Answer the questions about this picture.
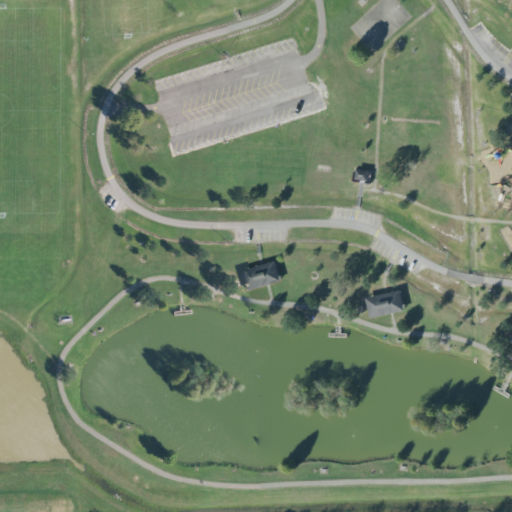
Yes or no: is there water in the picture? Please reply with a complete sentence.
Yes, there's water in this view.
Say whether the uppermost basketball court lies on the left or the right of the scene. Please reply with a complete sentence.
The uppermost basketball court sits on the right side.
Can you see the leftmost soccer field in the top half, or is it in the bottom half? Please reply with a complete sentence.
You can find the leftmost soccer field in the top half.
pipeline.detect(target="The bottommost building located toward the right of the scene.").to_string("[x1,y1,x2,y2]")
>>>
[366,291,404,318]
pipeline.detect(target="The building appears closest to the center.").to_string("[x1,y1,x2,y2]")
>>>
[242,261,282,290]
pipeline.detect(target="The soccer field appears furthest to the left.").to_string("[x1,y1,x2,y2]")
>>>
[0,0,62,215]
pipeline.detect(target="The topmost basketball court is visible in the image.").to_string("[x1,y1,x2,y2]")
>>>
[351,0,412,52]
